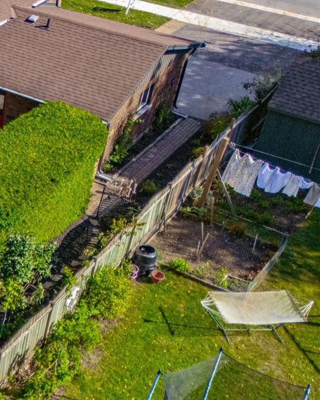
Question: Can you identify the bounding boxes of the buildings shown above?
[0,0,215,190]
[256,49,320,181]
